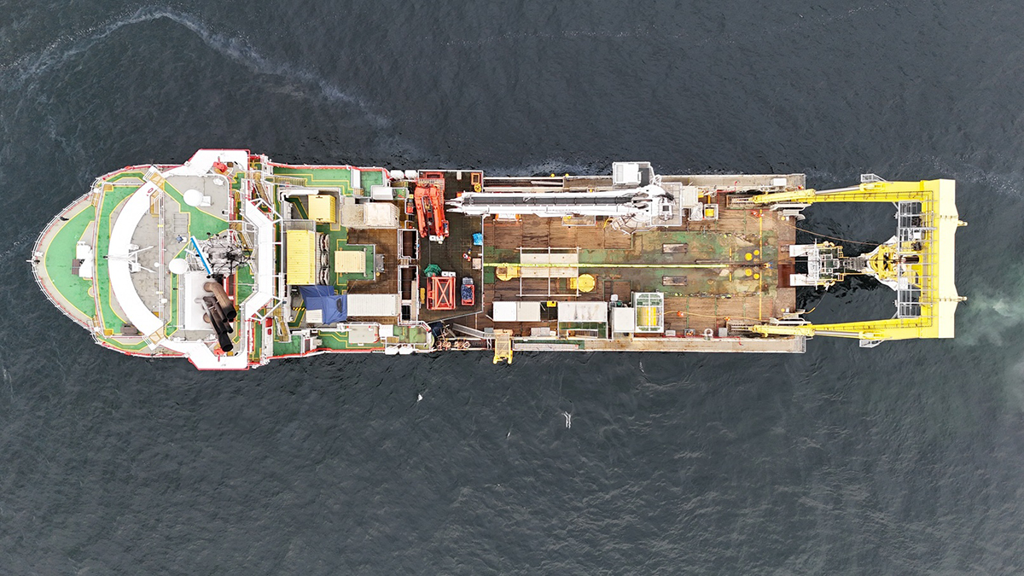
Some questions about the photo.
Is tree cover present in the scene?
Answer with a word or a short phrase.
No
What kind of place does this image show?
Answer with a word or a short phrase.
port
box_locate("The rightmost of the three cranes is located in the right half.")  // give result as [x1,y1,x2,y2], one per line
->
[725,174,970,348]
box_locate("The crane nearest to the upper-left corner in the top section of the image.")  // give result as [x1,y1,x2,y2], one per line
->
[415,172,449,279]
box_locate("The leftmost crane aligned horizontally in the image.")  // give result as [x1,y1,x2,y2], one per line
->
[446,182,683,238]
